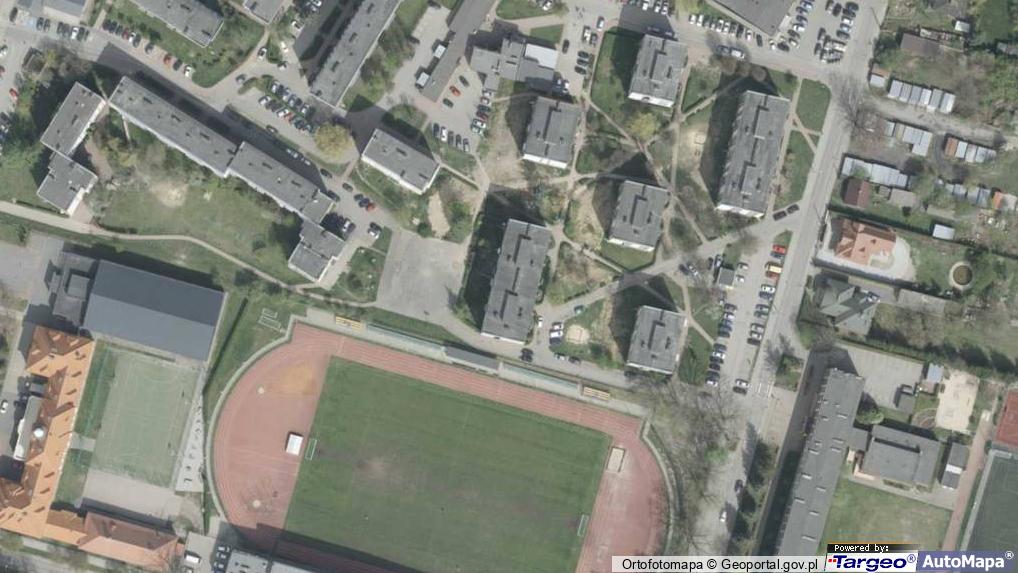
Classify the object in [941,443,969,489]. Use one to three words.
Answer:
shed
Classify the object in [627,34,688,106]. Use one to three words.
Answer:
building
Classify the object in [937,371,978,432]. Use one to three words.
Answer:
sports court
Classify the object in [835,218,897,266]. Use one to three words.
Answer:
house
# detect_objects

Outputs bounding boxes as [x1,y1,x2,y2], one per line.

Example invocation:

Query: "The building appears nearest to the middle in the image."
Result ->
[481,219,551,345]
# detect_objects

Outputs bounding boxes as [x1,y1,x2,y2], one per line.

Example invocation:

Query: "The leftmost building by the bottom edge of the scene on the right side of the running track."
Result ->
[770,371,864,573]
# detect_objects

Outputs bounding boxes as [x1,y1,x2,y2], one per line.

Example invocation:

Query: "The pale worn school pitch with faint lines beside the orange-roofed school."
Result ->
[89,345,200,488]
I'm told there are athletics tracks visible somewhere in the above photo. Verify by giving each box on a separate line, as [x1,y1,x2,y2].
[208,315,680,573]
